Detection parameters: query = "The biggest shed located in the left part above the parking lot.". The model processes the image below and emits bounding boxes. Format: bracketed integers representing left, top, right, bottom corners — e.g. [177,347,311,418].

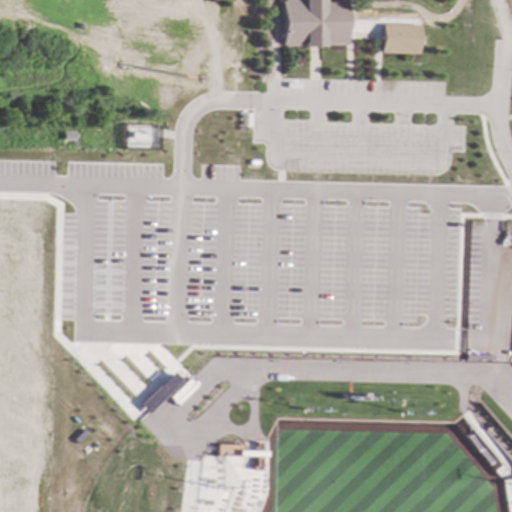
[126,124,160,147]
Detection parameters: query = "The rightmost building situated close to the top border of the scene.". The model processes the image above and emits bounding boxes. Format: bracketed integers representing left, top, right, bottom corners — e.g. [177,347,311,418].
[384,24,425,54]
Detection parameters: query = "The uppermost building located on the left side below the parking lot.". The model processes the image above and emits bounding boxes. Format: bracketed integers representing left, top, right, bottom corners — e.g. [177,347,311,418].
[144,371,188,412]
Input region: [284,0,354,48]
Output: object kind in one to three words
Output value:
building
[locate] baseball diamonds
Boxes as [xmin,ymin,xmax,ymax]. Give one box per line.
[263,420,500,512]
